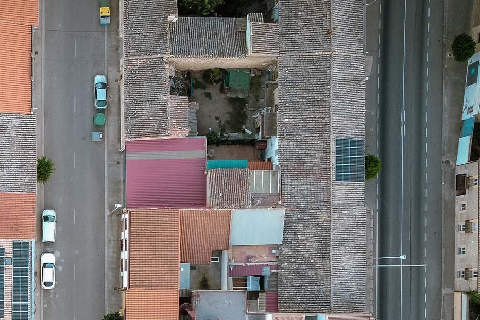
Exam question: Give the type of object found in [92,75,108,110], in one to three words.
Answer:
car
